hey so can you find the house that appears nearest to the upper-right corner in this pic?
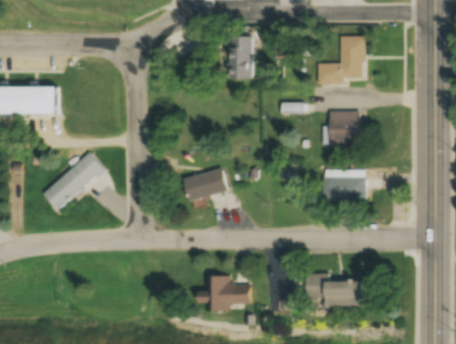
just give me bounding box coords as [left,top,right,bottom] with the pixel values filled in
[318,36,368,86]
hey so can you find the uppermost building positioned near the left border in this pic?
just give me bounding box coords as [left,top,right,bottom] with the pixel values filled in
[0,82,63,116]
